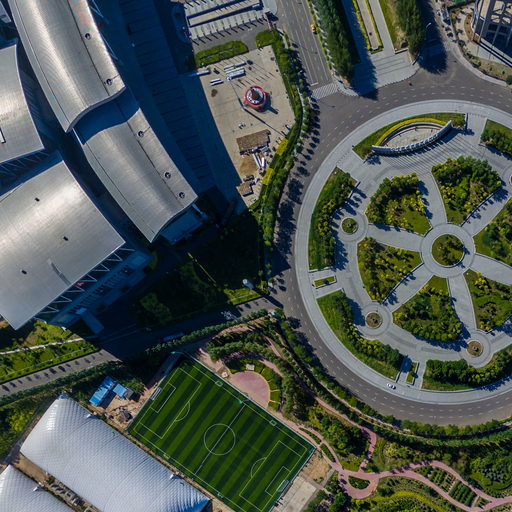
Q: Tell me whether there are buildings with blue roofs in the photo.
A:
Yes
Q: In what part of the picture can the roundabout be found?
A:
right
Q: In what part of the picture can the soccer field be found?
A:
bottom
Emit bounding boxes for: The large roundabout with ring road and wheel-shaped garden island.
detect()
[272,76,512,425]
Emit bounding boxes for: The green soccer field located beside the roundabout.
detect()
[124,352,315,512]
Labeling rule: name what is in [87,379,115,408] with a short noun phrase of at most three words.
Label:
building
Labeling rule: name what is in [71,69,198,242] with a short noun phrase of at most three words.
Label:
building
